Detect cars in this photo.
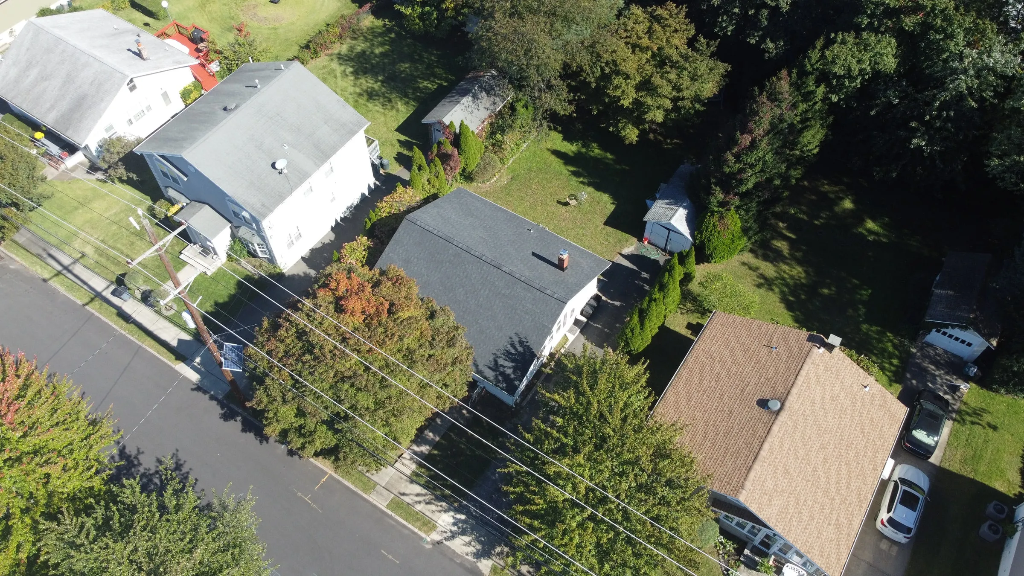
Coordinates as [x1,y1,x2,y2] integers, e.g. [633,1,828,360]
[898,382,949,460]
[871,460,932,547]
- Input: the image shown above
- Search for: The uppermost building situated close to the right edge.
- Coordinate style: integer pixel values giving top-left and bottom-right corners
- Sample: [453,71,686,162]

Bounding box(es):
[917,251,1018,364]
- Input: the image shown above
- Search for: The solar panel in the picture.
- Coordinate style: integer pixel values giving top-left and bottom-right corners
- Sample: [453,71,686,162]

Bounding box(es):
[222,342,244,372]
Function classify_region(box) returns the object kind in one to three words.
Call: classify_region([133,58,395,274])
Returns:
house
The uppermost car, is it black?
Yes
